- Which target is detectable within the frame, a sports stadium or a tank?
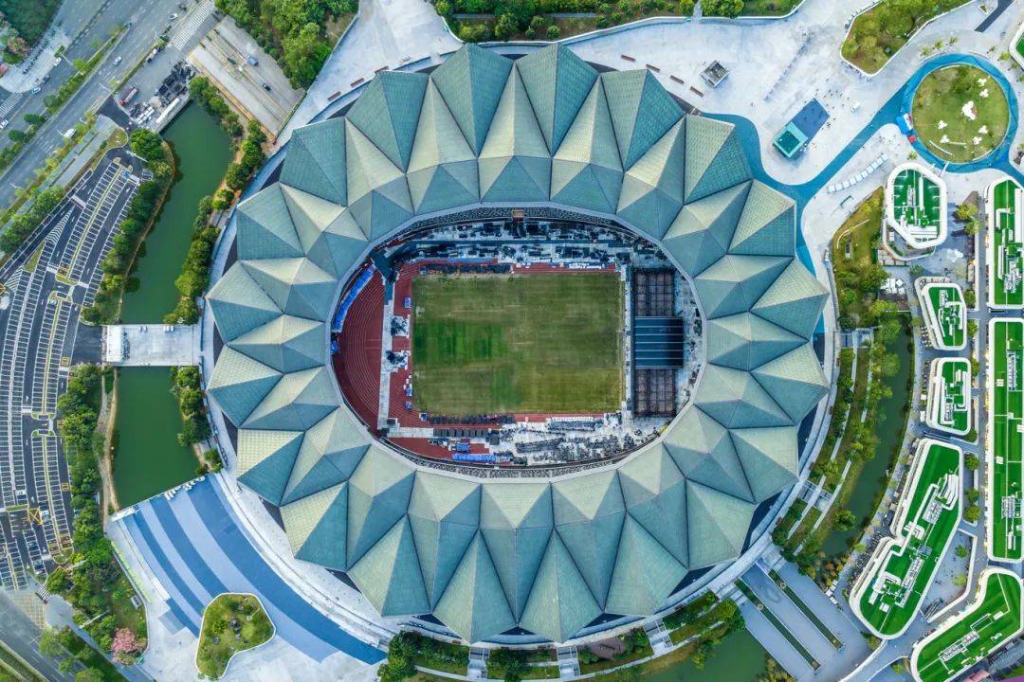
sports stadium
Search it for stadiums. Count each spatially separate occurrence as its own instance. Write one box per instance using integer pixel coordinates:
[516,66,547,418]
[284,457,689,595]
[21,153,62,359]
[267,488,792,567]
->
[205,42,830,645]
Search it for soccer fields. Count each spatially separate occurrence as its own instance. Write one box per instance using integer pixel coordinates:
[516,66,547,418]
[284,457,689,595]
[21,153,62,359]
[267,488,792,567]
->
[412,273,623,415]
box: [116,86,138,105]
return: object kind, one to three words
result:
vehicle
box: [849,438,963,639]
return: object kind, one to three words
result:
building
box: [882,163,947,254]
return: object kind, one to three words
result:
building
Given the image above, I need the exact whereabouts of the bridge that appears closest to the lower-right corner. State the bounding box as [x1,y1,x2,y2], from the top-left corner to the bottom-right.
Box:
[720,554,876,682]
